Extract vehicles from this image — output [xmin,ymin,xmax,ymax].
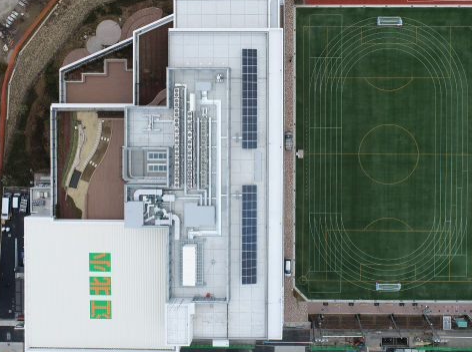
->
[344,337,367,348]
[10,188,21,207]
[17,192,29,215]
[285,131,293,150]
[0,190,15,218]
[285,258,293,275]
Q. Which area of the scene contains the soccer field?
right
